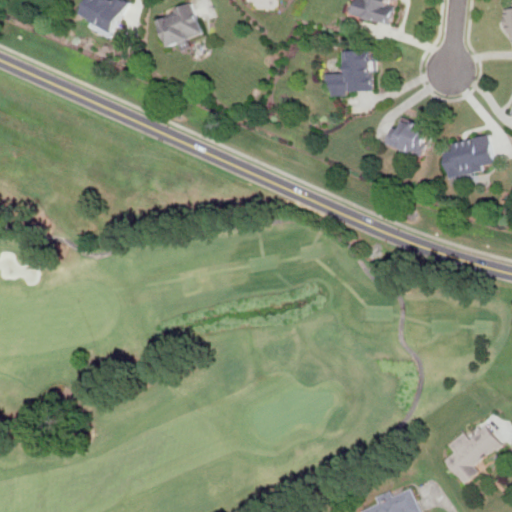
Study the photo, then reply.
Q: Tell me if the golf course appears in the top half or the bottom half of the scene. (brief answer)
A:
bottom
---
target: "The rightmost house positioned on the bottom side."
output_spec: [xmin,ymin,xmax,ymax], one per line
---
[444,424,502,486]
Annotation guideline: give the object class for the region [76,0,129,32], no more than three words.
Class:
house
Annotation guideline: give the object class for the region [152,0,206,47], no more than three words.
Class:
house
